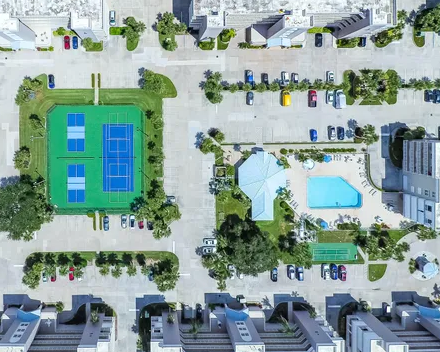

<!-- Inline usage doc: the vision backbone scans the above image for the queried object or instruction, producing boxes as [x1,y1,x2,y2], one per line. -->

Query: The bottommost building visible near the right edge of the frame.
[344,305,440,352]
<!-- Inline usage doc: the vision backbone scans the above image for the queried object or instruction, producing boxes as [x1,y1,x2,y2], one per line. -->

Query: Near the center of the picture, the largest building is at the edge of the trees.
[239,151,286,220]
